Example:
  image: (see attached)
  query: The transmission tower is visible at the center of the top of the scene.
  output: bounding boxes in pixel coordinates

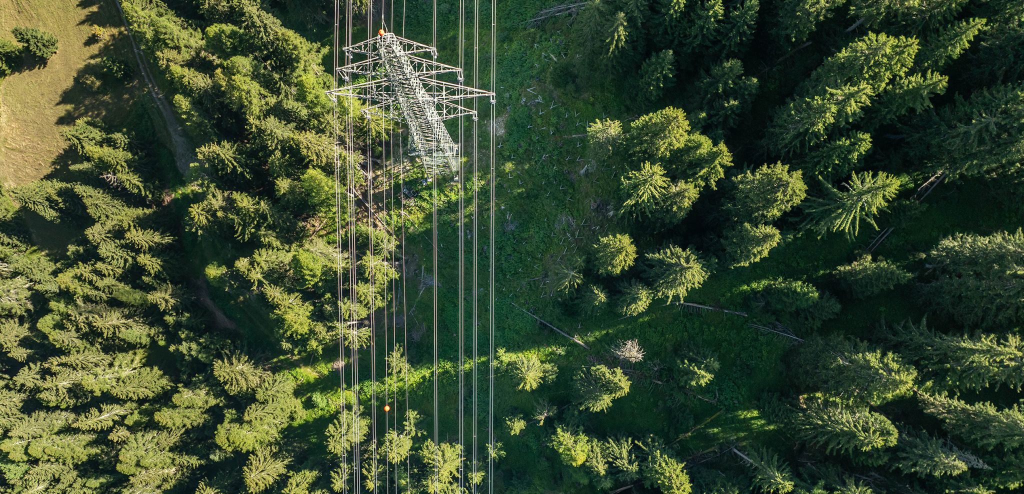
[325,15,500,183]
